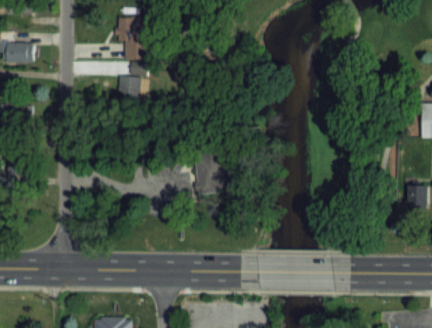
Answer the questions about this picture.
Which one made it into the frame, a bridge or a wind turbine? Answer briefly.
bridge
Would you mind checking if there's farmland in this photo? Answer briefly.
No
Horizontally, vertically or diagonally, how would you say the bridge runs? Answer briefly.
horizontally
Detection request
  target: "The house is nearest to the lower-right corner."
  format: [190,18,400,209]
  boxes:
[408,186,431,208]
